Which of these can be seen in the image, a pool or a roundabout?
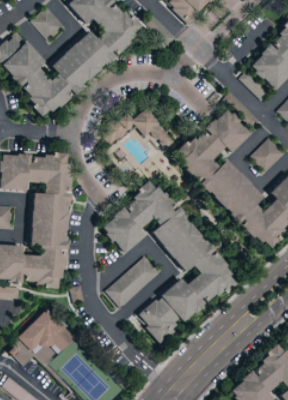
pool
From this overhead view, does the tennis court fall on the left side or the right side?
left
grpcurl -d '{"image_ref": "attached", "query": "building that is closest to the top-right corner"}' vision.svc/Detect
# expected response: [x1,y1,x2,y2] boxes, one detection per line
[254,34,288,90]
